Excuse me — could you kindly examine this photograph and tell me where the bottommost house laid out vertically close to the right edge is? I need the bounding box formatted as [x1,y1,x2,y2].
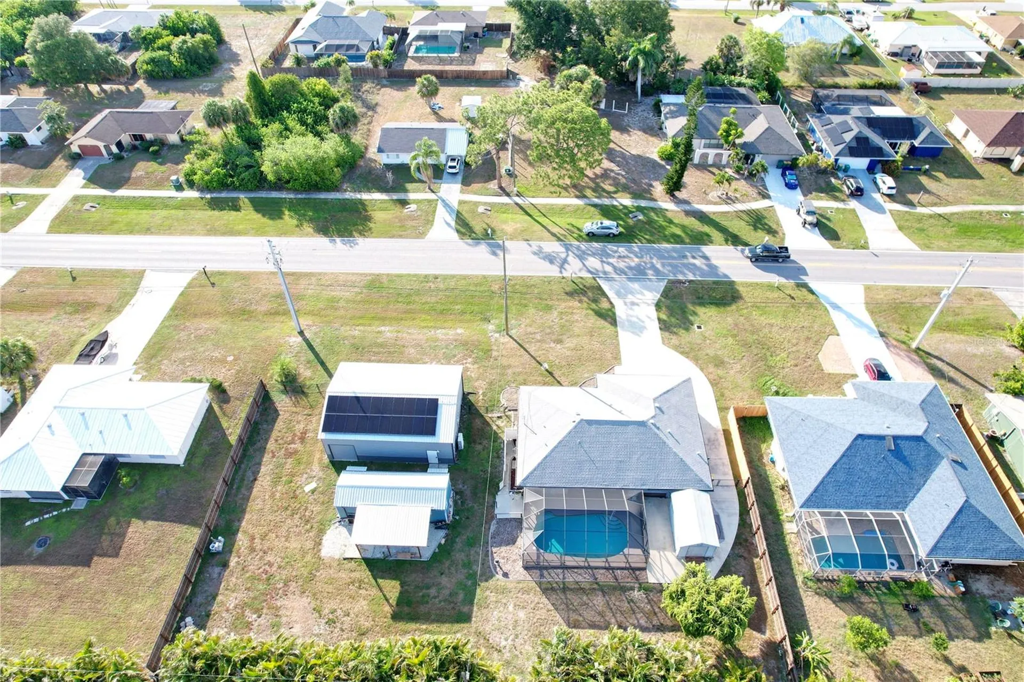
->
[984,393,1024,493]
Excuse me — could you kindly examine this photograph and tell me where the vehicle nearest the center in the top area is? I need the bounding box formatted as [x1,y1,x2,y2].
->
[583,219,621,238]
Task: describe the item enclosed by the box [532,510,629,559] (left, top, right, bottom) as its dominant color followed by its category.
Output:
blue swimming pool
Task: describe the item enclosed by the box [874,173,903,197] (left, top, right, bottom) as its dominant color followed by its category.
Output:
white car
